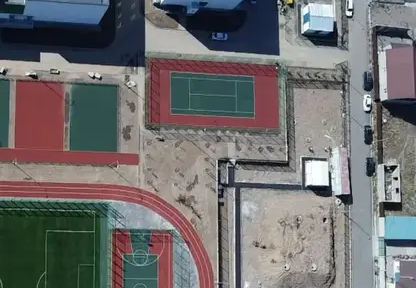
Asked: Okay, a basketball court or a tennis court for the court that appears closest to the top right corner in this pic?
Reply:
tennis court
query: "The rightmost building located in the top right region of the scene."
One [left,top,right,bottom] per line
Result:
[379,42,416,104]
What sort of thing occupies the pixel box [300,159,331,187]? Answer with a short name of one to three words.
shed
